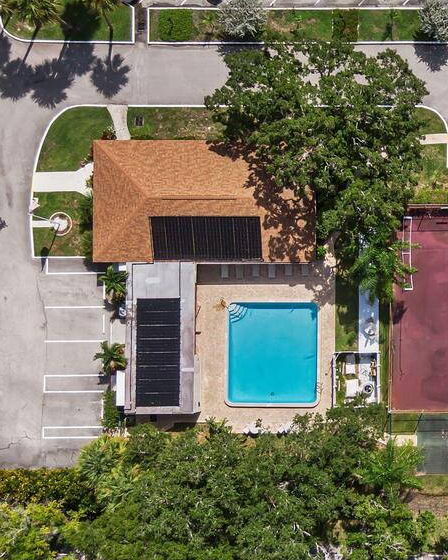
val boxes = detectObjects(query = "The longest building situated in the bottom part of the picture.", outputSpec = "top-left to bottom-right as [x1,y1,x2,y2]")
[126,264,201,414]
